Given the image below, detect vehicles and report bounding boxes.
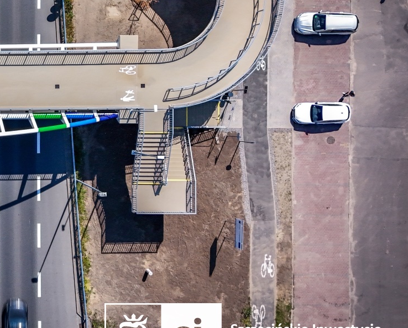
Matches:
[292,99,348,126]
[2,301,30,328]
[297,8,359,36]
